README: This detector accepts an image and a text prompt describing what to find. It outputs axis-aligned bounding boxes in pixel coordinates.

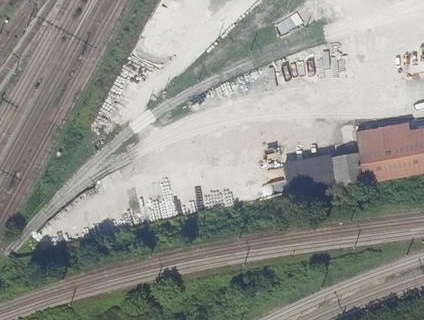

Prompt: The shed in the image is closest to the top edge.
[276,12,304,35]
